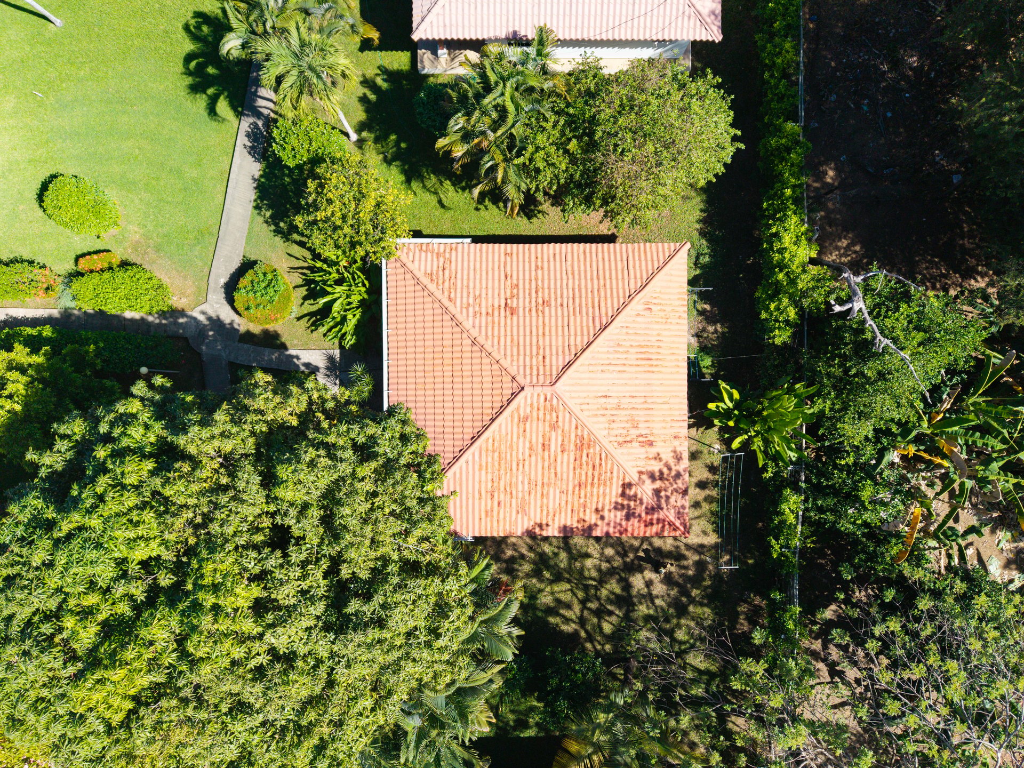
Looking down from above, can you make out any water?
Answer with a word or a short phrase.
No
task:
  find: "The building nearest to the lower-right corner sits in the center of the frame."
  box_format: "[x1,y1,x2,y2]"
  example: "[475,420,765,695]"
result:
[382,237,694,541]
